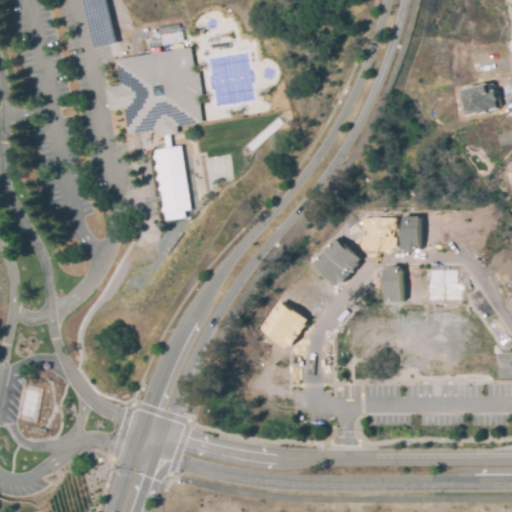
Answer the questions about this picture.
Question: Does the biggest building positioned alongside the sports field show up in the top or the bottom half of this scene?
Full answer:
The top half of the photo is where the biggest building positioned alongside the sports field is.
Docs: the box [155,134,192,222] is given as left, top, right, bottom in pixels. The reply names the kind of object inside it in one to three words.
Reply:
building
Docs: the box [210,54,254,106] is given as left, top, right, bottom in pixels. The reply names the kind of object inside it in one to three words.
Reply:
sports court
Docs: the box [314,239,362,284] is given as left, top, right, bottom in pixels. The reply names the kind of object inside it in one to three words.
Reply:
house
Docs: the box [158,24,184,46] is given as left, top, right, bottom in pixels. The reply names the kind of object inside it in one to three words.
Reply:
building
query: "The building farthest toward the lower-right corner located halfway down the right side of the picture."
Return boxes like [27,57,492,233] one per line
[382,266,404,302]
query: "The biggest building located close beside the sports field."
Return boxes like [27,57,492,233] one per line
[106,48,202,137]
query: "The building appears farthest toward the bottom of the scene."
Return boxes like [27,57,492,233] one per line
[22,386,43,422]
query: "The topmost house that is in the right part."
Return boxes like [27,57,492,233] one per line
[462,84,497,114]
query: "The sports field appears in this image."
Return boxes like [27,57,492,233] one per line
[200,112,281,179]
